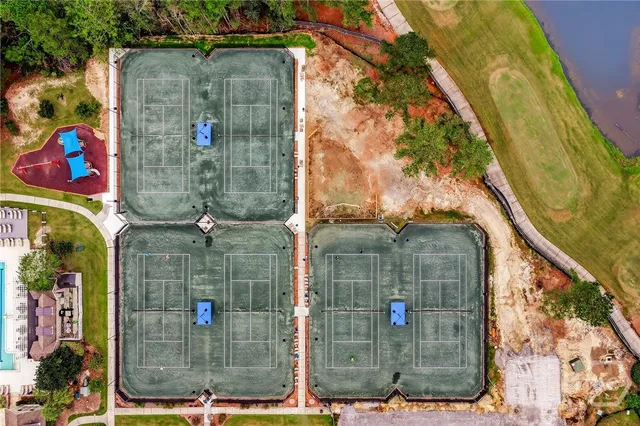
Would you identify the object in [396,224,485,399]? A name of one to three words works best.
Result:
tennis court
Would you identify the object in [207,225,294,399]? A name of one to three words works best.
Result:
tennis court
